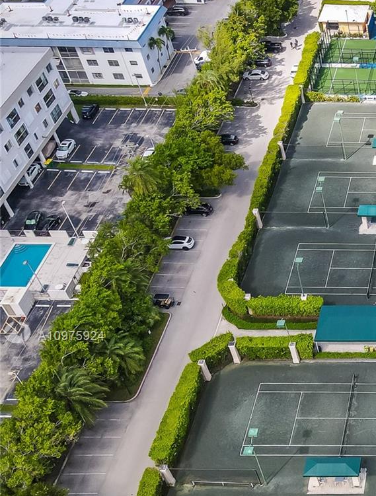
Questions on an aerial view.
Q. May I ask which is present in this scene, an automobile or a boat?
automobile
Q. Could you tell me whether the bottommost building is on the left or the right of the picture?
right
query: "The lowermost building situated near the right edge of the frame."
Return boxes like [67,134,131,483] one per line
[316,305,376,352]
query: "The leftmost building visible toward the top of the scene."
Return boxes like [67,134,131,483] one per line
[0,44,77,215]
